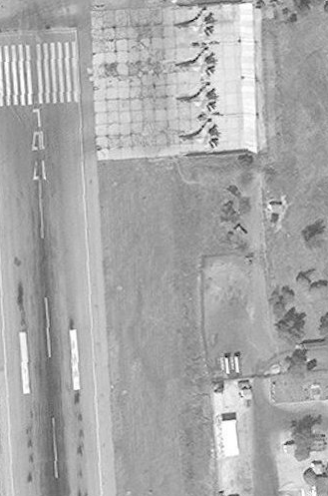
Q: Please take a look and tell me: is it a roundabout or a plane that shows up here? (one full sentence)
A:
Of the two, only a plane appears.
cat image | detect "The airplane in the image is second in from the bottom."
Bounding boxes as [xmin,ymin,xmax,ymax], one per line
[179,86,219,116]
